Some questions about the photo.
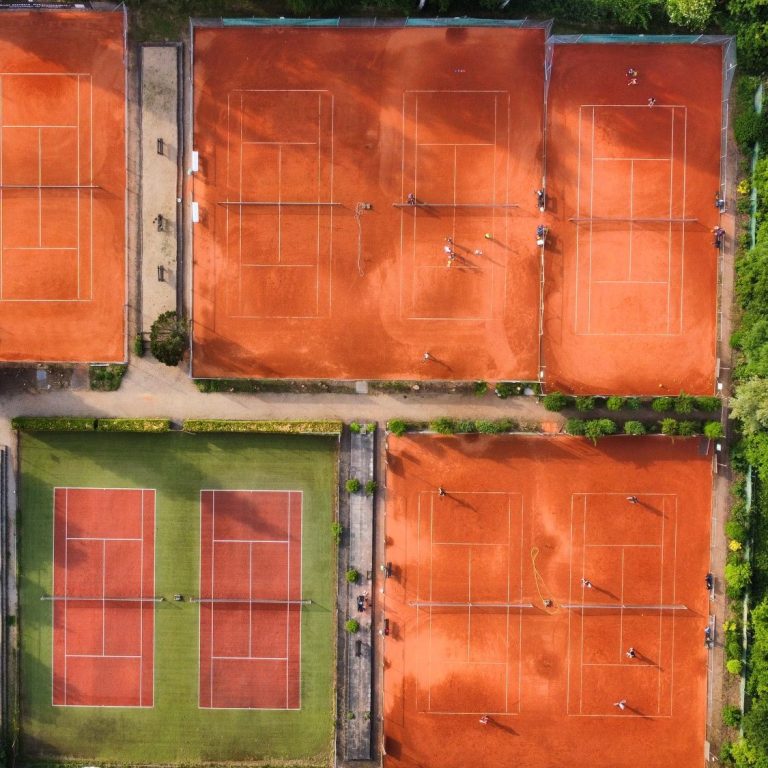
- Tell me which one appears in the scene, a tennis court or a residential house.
tennis court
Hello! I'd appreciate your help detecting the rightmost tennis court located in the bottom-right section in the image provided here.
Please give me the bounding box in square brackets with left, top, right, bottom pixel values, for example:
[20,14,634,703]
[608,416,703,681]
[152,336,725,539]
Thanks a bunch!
[544,435,712,768]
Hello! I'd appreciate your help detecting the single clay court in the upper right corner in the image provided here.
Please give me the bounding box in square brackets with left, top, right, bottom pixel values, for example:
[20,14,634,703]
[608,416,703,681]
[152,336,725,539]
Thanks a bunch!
[541,44,722,396]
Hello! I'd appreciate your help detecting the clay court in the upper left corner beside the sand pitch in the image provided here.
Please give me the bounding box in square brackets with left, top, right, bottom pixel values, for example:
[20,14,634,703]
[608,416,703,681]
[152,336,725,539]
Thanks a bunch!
[0,10,124,361]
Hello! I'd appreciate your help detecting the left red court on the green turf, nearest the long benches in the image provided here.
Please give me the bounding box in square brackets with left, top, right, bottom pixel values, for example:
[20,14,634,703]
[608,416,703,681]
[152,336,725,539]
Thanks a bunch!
[19,429,178,767]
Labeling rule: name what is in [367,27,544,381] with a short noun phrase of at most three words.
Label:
tennis court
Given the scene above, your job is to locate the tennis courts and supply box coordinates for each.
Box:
[367,27,544,381]
[177,430,338,767]
[192,26,368,380]
[384,433,546,768]
[0,10,124,361]
[19,429,178,767]
[541,44,722,396]
[544,435,712,768]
